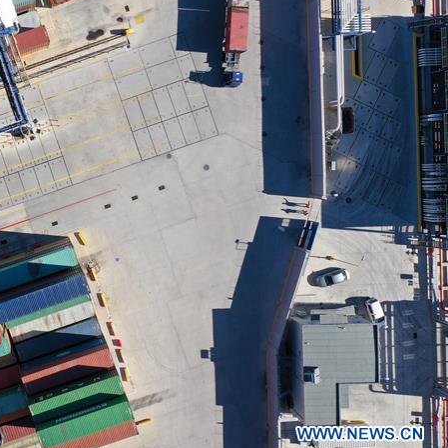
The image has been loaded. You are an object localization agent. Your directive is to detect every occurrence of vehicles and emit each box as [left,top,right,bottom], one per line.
[361,295,387,326]
[220,40,244,90]
[317,267,350,285]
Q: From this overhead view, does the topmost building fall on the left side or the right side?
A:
right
